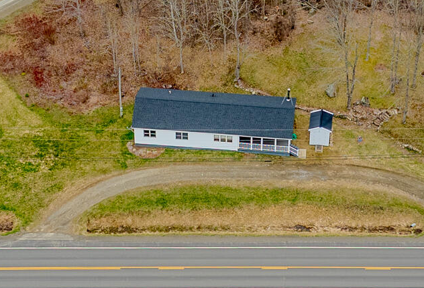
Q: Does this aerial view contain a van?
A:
No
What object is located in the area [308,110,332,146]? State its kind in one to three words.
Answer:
shed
